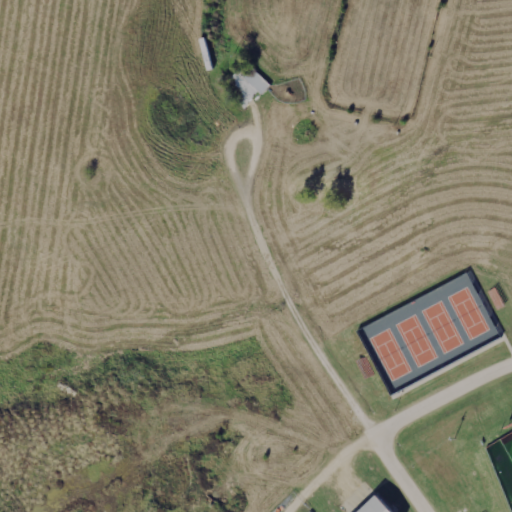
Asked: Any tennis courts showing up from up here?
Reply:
Yes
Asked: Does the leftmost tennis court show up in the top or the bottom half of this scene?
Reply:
bottom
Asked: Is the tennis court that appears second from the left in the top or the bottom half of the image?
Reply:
bottom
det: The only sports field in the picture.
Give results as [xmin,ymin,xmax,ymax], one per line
[488,433,512,512]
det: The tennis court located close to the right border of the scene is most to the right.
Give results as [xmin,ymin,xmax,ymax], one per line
[448,288,490,340]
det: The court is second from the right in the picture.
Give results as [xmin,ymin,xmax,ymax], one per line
[422,301,464,354]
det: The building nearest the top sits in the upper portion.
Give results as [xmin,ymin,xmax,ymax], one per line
[233,70,272,107]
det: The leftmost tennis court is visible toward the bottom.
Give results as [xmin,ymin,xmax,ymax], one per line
[370,328,411,380]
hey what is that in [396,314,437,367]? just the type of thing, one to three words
tennis court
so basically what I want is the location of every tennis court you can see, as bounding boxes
[448,288,490,340]
[396,314,437,367]
[370,328,411,380]
[422,301,464,354]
